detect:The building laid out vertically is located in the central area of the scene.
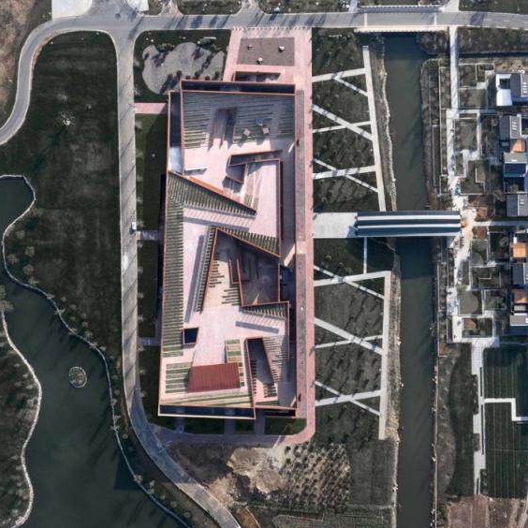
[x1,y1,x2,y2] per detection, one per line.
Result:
[158,71,300,419]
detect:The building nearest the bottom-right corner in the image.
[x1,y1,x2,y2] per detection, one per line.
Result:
[509,314,528,335]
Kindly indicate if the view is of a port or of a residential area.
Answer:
residential area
